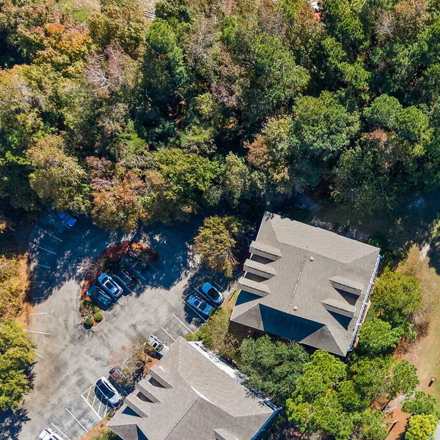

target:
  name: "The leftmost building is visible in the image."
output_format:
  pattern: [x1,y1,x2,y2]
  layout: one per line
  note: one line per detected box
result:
[108,333,286,440]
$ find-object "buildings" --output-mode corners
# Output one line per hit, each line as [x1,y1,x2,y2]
[108,333,286,440]
[229,208,388,358]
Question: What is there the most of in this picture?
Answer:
trees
